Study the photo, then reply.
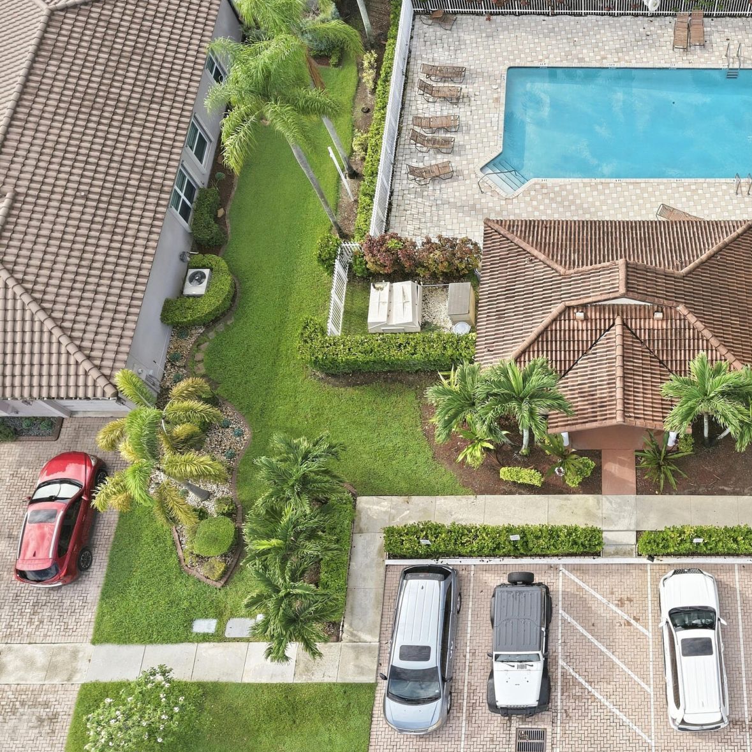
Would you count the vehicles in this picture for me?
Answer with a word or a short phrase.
4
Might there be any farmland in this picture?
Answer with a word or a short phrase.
No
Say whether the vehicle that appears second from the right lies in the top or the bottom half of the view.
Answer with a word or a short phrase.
bottom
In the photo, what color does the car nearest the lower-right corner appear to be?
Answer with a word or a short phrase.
white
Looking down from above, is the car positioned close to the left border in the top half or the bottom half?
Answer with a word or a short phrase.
bottom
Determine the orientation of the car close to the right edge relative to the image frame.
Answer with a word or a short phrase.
from top to bottom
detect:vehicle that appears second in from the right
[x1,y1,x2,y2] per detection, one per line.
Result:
[482,562,554,722]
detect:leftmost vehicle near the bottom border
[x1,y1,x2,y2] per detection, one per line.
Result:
[378,562,464,738]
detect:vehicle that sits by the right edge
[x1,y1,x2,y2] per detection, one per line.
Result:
[659,564,733,735]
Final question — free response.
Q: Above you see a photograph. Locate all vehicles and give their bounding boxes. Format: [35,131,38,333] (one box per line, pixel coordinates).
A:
[378,562,464,738]
[6,452,111,592]
[659,564,733,735]
[482,562,554,722]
